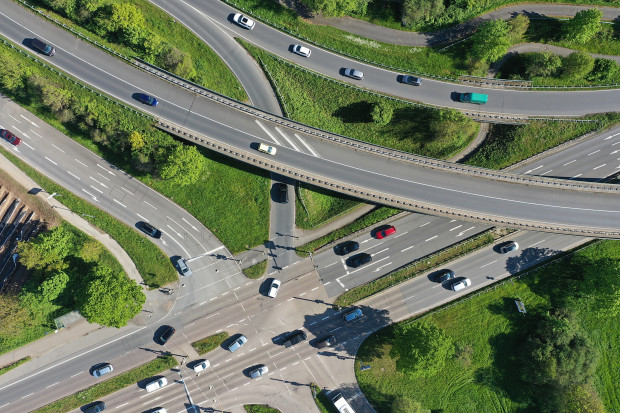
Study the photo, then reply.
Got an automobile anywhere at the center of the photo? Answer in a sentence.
Yes, an automobile shows up at the center of the photo.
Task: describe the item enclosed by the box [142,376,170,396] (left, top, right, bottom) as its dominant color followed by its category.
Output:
white vehicle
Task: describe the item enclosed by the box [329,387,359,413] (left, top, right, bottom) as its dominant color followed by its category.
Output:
white bus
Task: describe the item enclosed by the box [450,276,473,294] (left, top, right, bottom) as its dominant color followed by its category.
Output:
white car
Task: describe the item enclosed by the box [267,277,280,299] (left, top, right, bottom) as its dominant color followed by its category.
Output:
white vehicle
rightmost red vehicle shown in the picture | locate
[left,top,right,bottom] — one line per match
[374,224,398,240]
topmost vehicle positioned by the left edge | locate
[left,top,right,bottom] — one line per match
[27,35,57,58]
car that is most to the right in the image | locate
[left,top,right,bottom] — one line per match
[498,240,520,256]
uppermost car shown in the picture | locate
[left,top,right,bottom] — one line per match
[232,12,257,31]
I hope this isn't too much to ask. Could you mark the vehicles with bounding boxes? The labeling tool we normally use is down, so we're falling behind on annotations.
[148,406,168,413]
[227,334,248,354]
[434,269,456,285]
[142,376,170,396]
[136,91,160,108]
[140,220,163,240]
[191,358,213,375]
[348,253,372,268]
[458,91,492,105]
[400,74,423,87]
[343,67,366,81]
[374,224,398,240]
[157,325,177,345]
[27,35,57,58]
[291,44,314,59]
[248,364,269,380]
[93,363,114,378]
[450,276,473,294]
[337,240,361,257]
[314,334,337,350]
[277,183,289,203]
[498,240,520,256]
[329,387,359,413]
[84,401,108,413]
[267,277,280,299]
[232,12,257,31]
[0,127,22,147]
[282,330,308,351]
[175,257,193,278]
